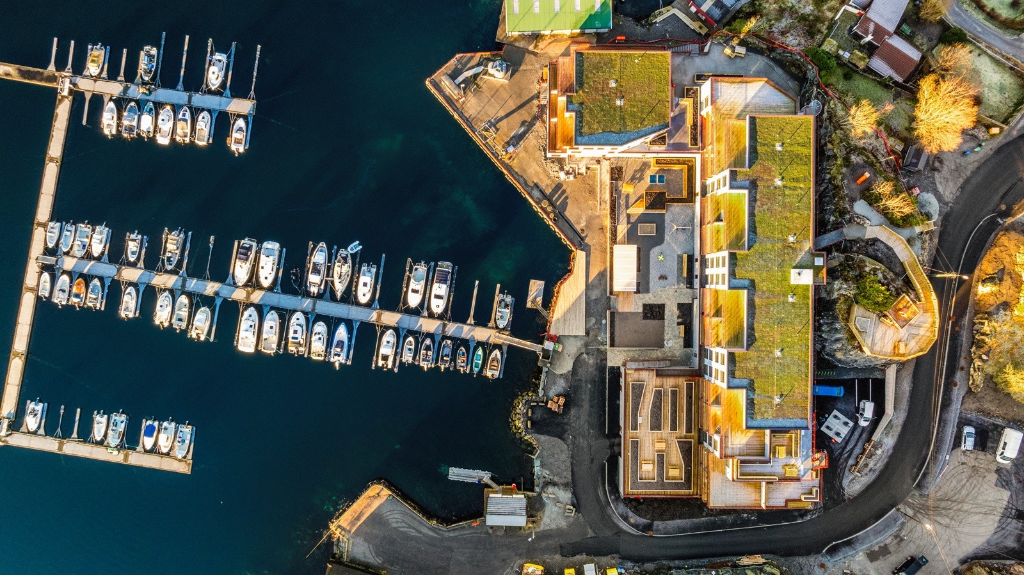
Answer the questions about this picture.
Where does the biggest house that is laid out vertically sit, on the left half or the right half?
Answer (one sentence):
The biggest house that is laid out vertically is on the right side of the image.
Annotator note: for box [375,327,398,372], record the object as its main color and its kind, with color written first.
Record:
white boat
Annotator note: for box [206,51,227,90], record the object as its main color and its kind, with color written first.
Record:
white boat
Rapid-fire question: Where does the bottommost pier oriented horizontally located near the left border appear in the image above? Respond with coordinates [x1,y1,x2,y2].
[3,430,194,474]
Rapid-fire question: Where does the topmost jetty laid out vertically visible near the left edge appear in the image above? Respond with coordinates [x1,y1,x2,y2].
[0,94,75,419]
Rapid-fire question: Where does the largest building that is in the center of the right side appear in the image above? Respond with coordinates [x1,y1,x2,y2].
[696,76,827,510]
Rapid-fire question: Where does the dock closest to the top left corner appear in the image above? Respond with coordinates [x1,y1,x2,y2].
[0,62,64,89]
